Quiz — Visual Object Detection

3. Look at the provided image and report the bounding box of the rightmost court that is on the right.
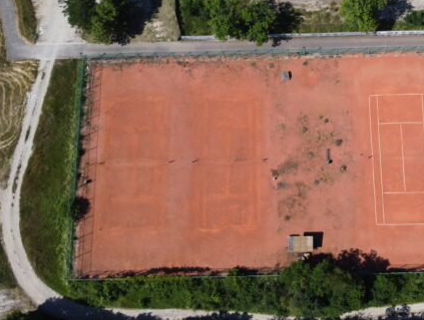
[352,70,424,252]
